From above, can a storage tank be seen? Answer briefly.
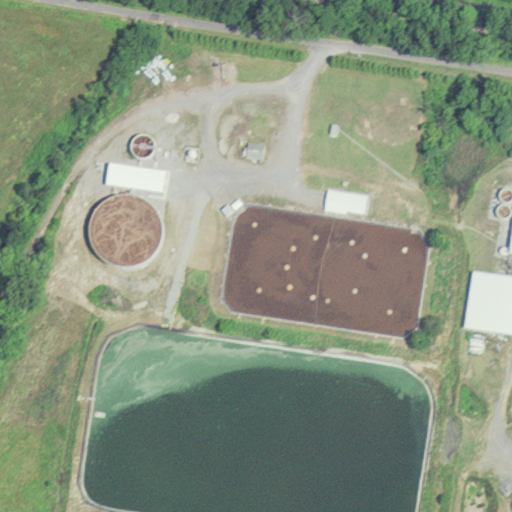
Yes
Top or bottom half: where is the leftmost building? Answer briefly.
top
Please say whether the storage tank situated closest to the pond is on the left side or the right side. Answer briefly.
left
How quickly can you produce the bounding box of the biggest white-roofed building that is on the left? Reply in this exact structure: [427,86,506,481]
[105,163,168,192]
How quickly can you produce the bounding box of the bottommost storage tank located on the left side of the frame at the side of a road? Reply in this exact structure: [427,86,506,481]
[89,192,164,268]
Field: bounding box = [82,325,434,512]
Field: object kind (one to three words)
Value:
pond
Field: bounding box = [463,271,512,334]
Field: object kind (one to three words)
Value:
building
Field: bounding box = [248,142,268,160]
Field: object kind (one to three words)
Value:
house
